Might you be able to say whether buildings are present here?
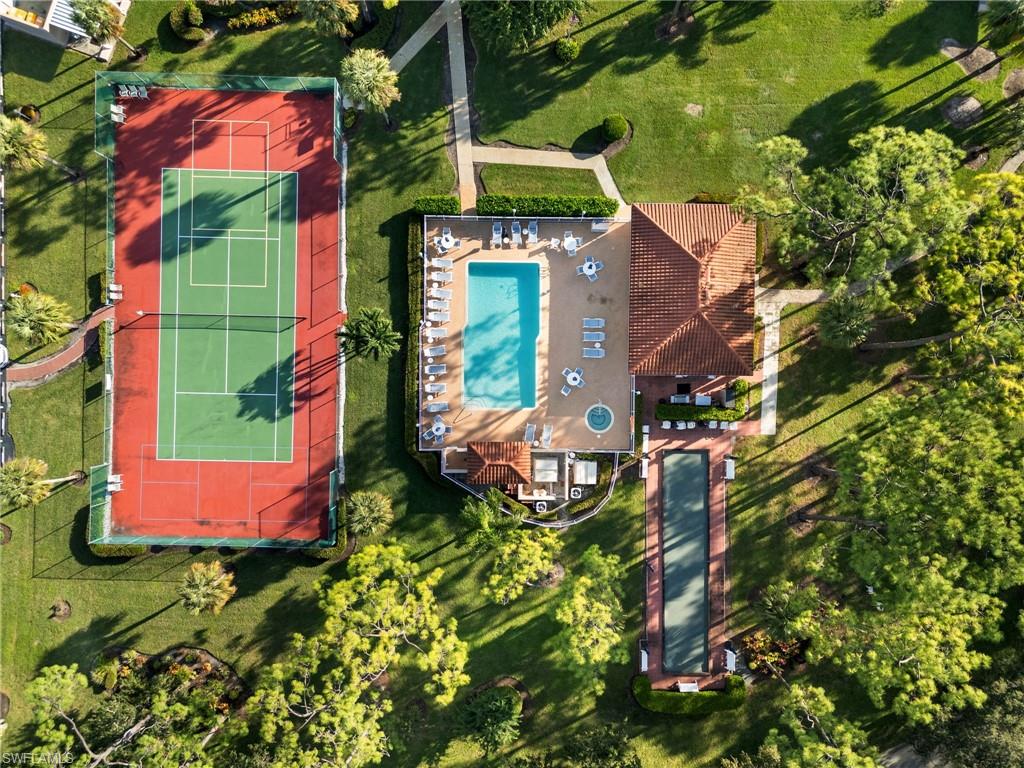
Yes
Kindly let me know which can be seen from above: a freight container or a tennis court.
tennis court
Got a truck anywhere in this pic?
No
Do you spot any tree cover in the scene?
Yes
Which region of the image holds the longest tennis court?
left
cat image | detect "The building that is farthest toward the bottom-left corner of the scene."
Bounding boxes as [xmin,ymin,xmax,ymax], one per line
[465,441,533,486]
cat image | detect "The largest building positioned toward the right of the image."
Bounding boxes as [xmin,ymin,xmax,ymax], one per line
[628,202,756,377]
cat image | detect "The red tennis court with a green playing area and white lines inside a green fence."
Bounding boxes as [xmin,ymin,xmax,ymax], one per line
[107,87,347,541]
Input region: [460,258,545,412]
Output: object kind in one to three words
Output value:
swimming pool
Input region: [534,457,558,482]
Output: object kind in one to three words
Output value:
shed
